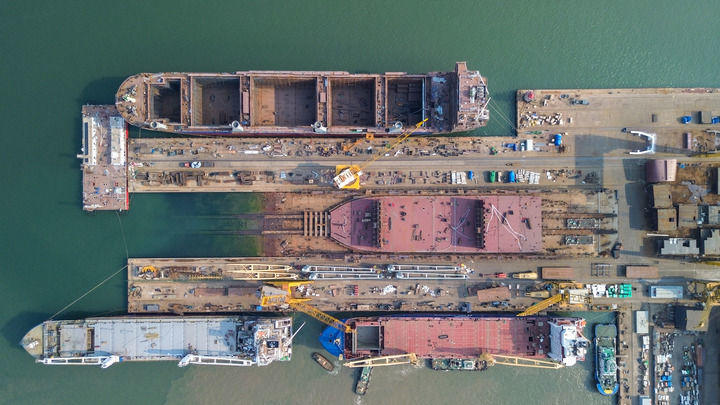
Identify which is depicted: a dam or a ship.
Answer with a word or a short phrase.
ship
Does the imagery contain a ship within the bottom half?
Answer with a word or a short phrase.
Yes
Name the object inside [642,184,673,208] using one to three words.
shed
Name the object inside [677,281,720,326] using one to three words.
crane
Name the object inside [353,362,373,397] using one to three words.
boat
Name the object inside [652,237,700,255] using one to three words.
shed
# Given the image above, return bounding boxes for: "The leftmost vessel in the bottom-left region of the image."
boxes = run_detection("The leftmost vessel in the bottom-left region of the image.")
[19,312,306,370]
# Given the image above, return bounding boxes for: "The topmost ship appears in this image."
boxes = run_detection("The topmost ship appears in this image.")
[115,61,491,136]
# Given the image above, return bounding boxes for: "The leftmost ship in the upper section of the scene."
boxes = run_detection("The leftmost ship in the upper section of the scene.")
[77,102,134,212]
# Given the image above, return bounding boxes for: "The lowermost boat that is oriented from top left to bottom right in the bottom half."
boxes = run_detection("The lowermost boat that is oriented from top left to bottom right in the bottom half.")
[311,352,336,375]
